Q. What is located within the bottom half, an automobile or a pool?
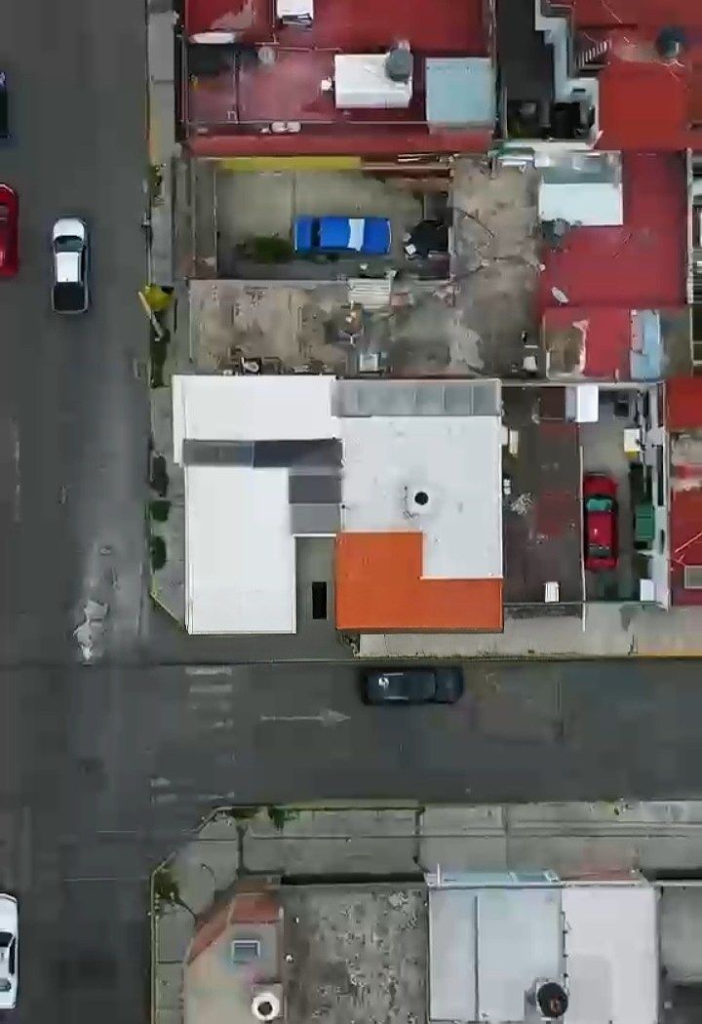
automobile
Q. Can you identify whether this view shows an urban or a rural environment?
urban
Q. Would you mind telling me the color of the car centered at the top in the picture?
blue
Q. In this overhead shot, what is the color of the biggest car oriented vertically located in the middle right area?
red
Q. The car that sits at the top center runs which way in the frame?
from left to right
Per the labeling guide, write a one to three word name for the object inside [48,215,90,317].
truck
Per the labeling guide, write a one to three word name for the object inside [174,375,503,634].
house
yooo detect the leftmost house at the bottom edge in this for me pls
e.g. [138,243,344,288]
[185,877,284,1024]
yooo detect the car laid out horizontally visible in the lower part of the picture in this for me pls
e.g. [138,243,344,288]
[359,664,465,708]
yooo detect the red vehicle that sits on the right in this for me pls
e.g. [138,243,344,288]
[582,473,621,573]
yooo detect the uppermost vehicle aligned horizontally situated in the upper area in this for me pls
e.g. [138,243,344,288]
[292,213,393,256]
